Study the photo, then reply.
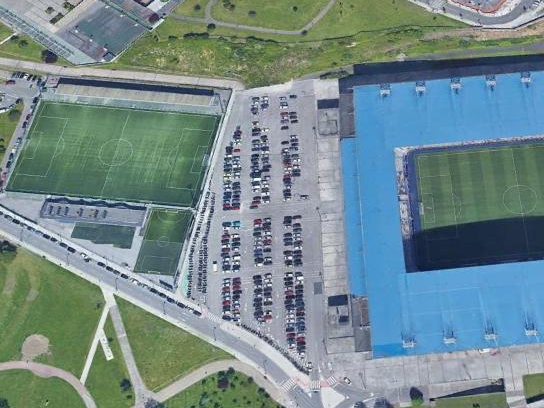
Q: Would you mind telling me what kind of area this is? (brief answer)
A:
sports ground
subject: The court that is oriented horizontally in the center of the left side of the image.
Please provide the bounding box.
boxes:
[70,224,135,249]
